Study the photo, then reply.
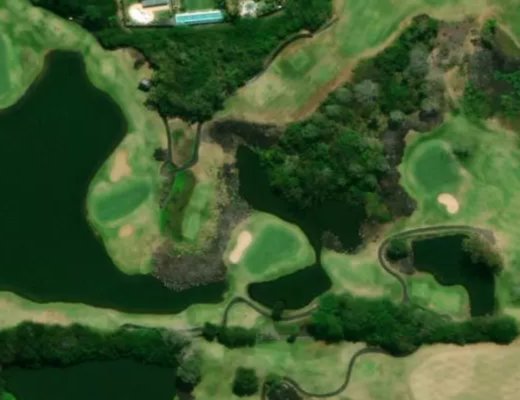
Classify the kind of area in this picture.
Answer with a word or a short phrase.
golf course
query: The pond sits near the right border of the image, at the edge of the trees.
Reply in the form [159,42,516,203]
[411,234,496,323]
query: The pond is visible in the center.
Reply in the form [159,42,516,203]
[236,144,370,310]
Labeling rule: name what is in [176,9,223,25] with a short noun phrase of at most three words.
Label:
swimming pool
